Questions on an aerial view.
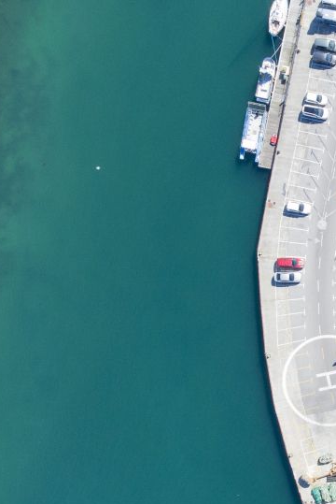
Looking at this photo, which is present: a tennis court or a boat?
boat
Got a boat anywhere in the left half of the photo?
No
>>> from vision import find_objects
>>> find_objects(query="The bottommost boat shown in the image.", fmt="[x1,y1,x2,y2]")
[240,100,267,163]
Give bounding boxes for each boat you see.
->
[240,100,267,163]
[255,57,276,105]
[268,0,291,39]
